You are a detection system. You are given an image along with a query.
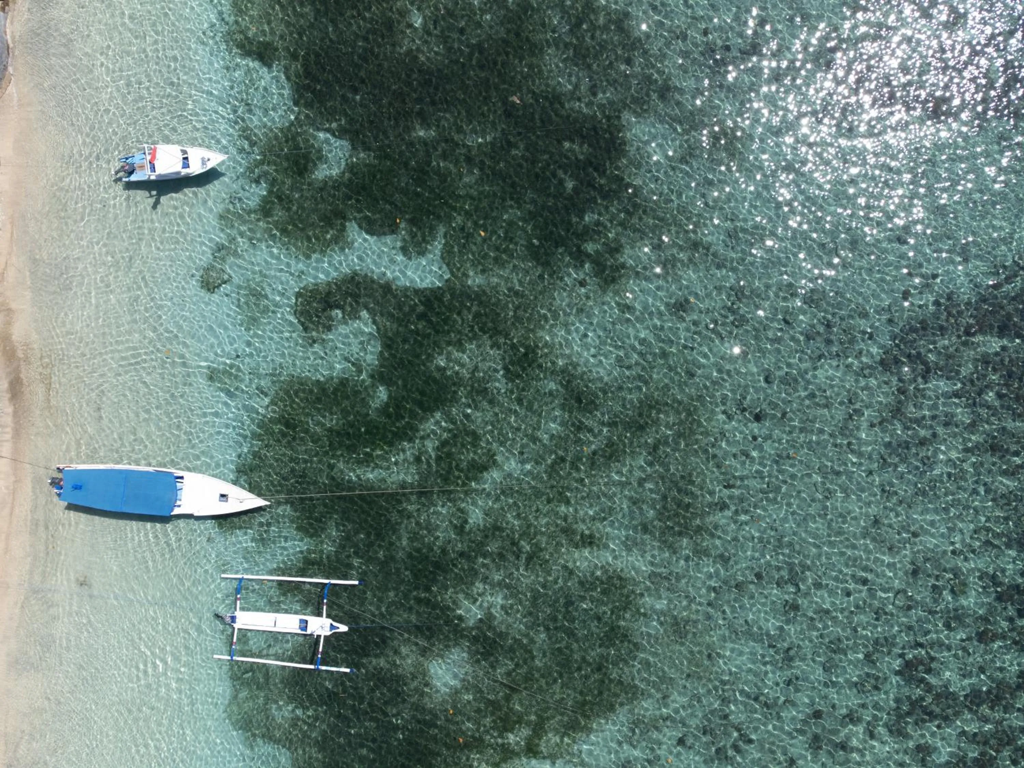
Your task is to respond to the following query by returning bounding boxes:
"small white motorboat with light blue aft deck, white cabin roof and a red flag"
[111,144,228,180]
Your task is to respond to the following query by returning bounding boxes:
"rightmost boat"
[213,574,364,672]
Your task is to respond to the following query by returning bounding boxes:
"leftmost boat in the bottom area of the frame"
[52,464,270,516]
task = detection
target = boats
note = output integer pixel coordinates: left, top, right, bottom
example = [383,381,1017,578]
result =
[111,144,228,180]
[213,574,364,672]
[52,464,270,516]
